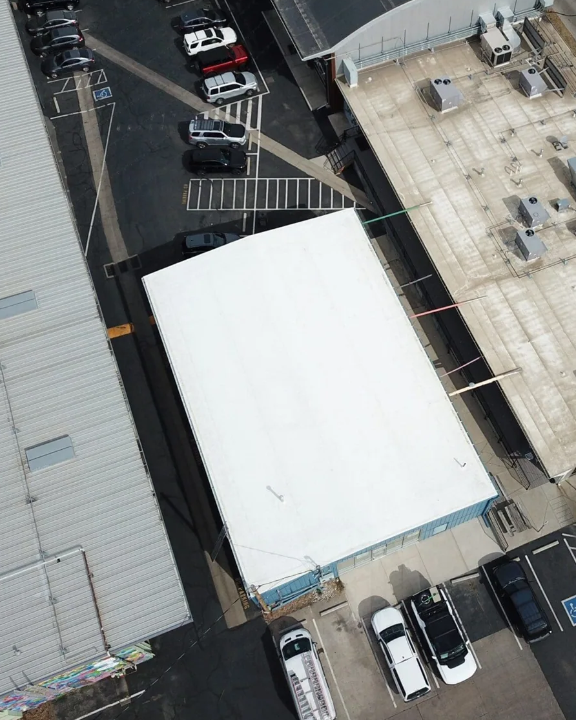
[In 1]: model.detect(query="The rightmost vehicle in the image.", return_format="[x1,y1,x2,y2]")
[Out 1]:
[490,555,555,644]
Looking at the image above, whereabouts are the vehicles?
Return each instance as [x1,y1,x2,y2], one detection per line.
[20,0,81,17]
[374,605,438,708]
[183,27,238,60]
[196,43,250,79]
[189,119,247,148]
[171,6,228,37]
[31,24,87,59]
[278,623,340,720]
[42,50,96,81]
[182,225,244,259]
[411,583,476,685]
[201,74,259,109]
[189,144,247,177]
[27,10,81,37]
[490,555,555,644]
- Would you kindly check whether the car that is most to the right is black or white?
black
